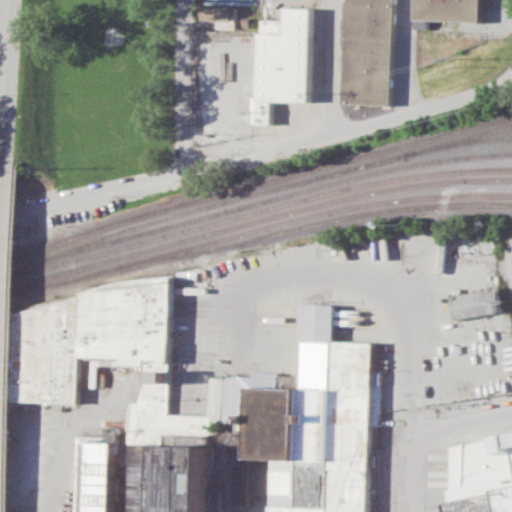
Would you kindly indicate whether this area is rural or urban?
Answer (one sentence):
This place is urban.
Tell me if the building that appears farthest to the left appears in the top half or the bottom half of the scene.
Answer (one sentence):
The building that appears farthest to the left sits in the bottom half of the picture.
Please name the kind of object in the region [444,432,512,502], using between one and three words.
building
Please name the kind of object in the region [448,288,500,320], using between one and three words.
shed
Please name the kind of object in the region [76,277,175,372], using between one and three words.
building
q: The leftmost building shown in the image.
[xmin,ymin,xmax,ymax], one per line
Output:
[18,296,82,404]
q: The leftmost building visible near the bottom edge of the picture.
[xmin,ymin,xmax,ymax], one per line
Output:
[74,434,113,512]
